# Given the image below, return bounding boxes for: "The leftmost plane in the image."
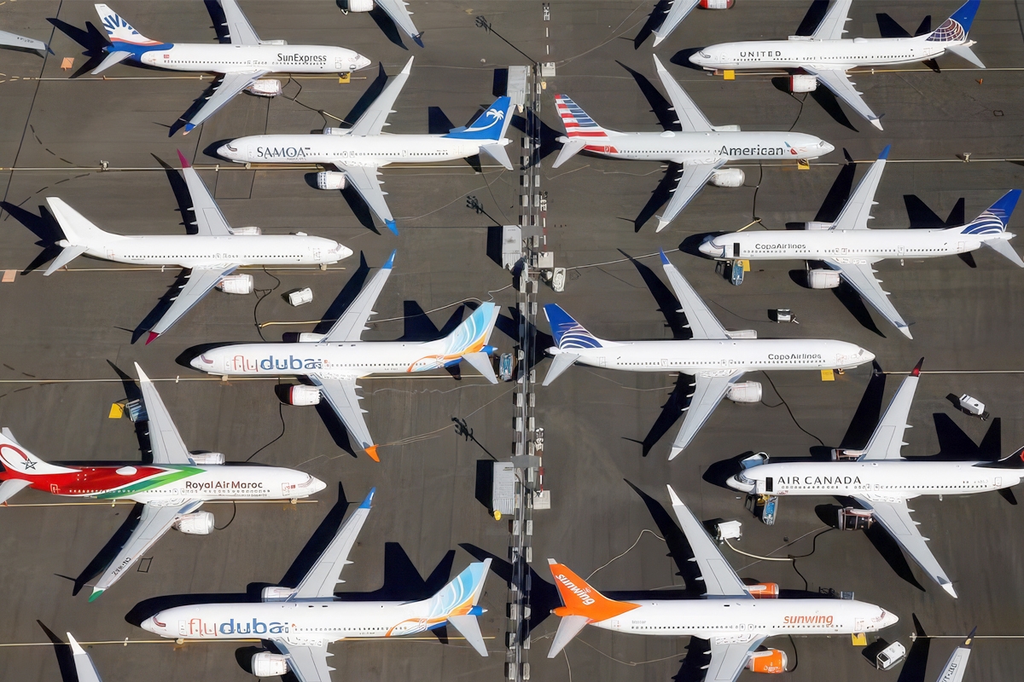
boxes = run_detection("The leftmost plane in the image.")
[0,30,54,54]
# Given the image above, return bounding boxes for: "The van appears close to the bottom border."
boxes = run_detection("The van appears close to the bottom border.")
[874,631,911,662]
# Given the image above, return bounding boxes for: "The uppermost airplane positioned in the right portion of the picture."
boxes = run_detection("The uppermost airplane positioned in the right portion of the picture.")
[653,0,734,46]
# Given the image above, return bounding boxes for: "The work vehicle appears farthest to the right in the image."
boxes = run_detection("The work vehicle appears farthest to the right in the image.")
[952,392,989,415]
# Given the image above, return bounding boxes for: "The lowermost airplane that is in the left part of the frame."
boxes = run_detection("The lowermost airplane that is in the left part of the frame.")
[67,632,99,682]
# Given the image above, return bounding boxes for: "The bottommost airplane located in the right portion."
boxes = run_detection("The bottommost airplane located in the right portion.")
[942,626,978,682]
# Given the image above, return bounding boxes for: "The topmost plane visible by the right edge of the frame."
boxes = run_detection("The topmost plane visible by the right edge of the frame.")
[687,0,985,130]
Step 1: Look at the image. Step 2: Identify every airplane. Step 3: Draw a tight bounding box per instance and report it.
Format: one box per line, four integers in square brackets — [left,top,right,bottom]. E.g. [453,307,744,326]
[67,632,99,682]
[725,358,1024,597]
[942,626,978,682]
[696,143,1024,339]
[188,248,502,462]
[687,0,985,130]
[546,485,900,682]
[44,150,352,345]
[215,57,517,235]
[347,0,425,48]
[552,54,837,232]
[0,363,326,600]
[141,486,492,682]
[541,247,878,463]
[653,0,734,46]
[92,0,371,134]
[0,30,54,54]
